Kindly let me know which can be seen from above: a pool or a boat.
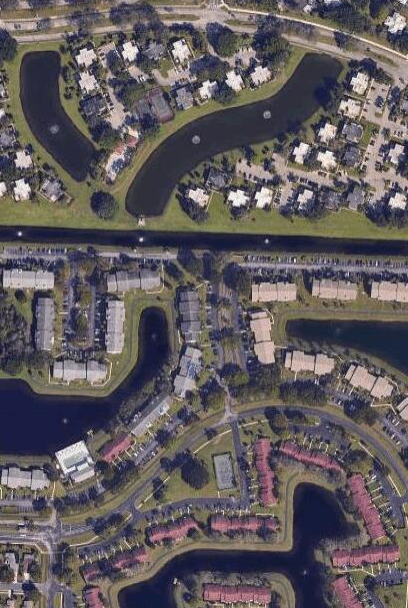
pool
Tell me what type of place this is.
residential area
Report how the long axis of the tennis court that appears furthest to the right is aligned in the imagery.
from top to bottom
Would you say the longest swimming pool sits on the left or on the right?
left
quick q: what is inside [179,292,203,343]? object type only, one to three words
building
